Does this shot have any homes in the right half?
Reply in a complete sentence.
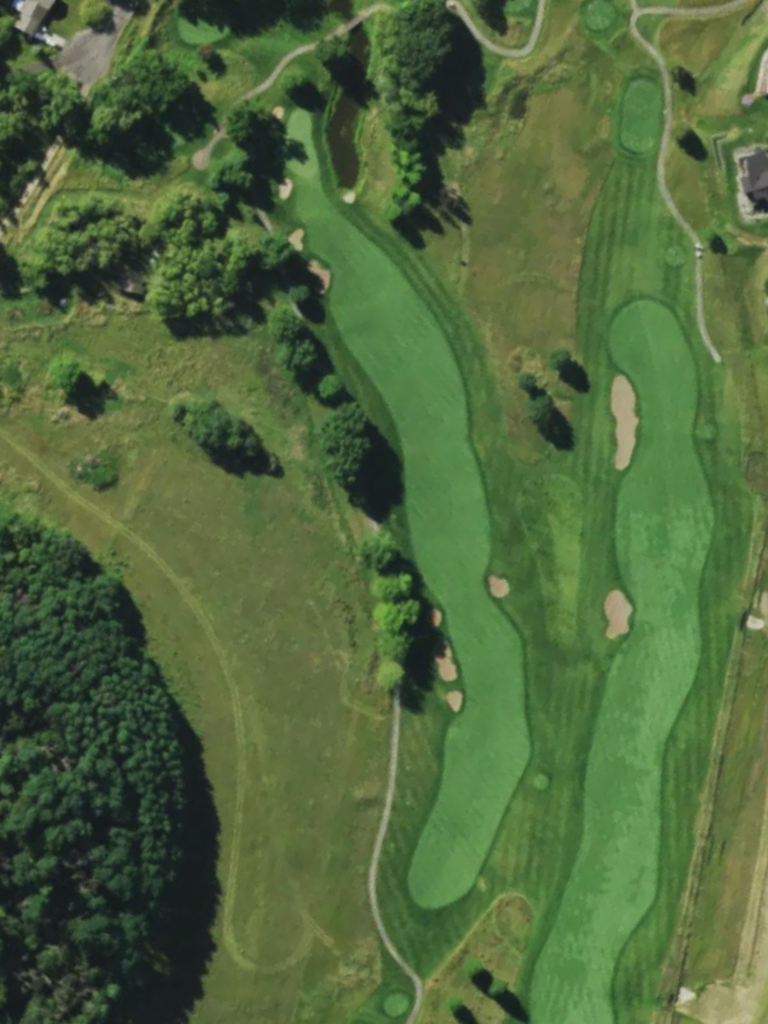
Yes, you'll find a home in the right half.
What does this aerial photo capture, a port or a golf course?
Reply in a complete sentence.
This looks like a golf course.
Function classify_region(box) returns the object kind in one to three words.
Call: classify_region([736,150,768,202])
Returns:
house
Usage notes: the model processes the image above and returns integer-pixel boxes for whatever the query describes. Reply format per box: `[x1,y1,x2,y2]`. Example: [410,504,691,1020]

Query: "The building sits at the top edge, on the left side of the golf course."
[16,0,55,39]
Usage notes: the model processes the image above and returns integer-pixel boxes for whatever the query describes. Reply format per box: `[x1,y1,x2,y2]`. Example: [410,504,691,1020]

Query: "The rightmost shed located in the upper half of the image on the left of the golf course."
[123,272,145,292]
